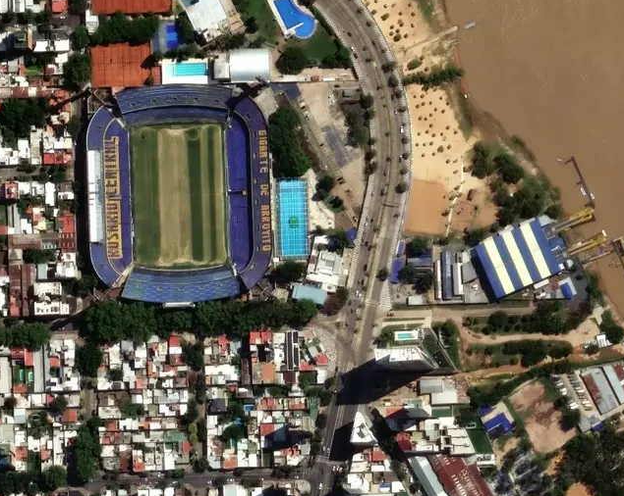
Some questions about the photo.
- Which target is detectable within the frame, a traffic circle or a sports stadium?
sports stadium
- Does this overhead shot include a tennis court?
Yes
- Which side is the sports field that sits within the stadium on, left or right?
left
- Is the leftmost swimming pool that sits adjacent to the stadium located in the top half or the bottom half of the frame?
top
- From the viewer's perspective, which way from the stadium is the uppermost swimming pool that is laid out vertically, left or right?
to the right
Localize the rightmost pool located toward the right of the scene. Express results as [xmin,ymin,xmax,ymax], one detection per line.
[395,330,419,343]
